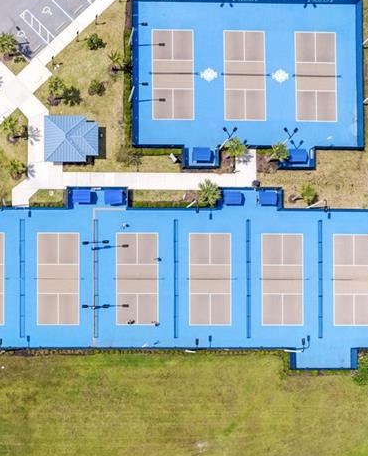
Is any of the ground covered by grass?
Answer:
Yes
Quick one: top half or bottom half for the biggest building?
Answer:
top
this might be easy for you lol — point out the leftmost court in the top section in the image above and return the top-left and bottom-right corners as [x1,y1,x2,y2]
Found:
[150,29,198,120]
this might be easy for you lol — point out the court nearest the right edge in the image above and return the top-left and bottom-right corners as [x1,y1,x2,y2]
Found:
[330,234,368,325]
